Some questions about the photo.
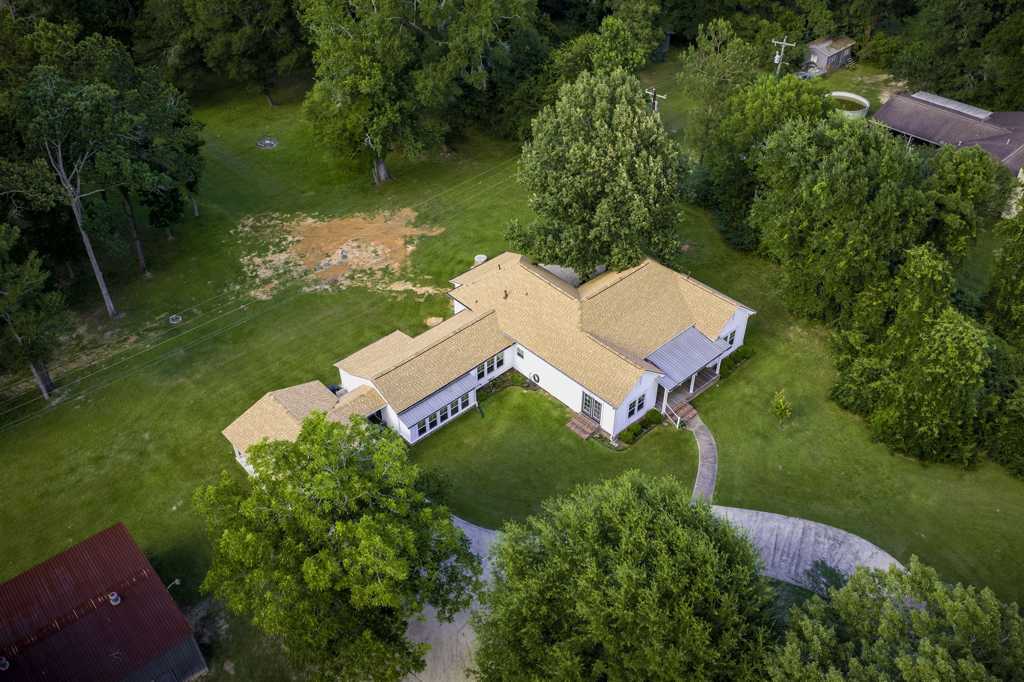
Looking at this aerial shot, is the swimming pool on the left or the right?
right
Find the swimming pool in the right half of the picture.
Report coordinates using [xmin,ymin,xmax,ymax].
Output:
[822,92,873,122]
